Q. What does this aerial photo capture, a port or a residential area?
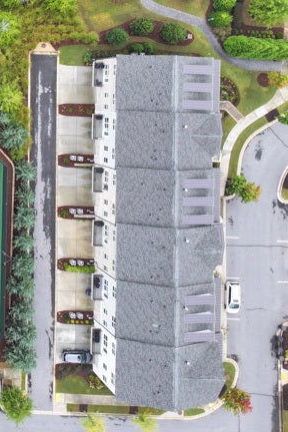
residential area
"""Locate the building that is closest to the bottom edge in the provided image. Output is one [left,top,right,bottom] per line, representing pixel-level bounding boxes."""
[93,317,227,408]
